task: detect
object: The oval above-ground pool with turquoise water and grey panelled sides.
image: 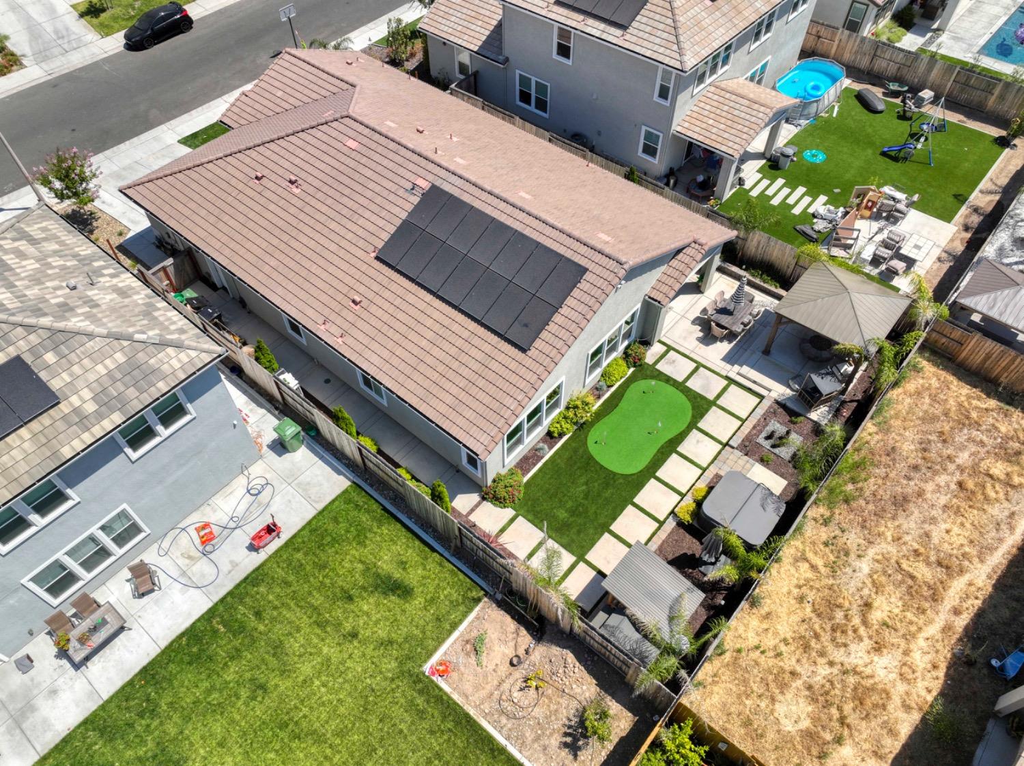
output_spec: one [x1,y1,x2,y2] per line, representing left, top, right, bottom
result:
[770,54,848,120]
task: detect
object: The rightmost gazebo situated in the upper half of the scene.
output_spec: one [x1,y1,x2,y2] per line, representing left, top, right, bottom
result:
[949,254,1024,332]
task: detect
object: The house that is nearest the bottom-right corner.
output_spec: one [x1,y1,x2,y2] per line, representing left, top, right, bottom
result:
[993,692,1024,726]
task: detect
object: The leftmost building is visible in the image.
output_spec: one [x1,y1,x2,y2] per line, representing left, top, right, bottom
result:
[0,198,256,665]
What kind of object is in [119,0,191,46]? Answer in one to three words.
car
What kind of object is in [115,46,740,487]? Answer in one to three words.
house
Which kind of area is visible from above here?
residential area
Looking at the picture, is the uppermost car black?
Yes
